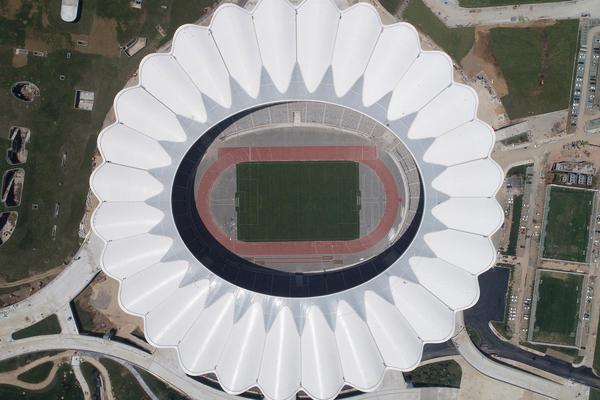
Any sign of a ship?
No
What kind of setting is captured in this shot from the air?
sports ground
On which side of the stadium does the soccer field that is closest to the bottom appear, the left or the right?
right of it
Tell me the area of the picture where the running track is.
center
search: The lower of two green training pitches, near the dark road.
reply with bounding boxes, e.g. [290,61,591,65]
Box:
[528,270,584,348]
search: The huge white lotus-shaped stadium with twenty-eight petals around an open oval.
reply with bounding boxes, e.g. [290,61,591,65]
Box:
[91,0,503,400]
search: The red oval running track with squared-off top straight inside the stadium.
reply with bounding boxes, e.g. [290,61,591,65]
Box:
[196,148,399,255]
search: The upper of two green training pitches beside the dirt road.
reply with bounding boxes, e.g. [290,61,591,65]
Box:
[540,184,598,264]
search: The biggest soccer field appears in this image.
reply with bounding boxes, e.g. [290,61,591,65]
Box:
[236,161,359,241]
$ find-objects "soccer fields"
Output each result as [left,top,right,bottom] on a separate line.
[236,161,359,241]
[528,270,584,348]
[540,184,598,264]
